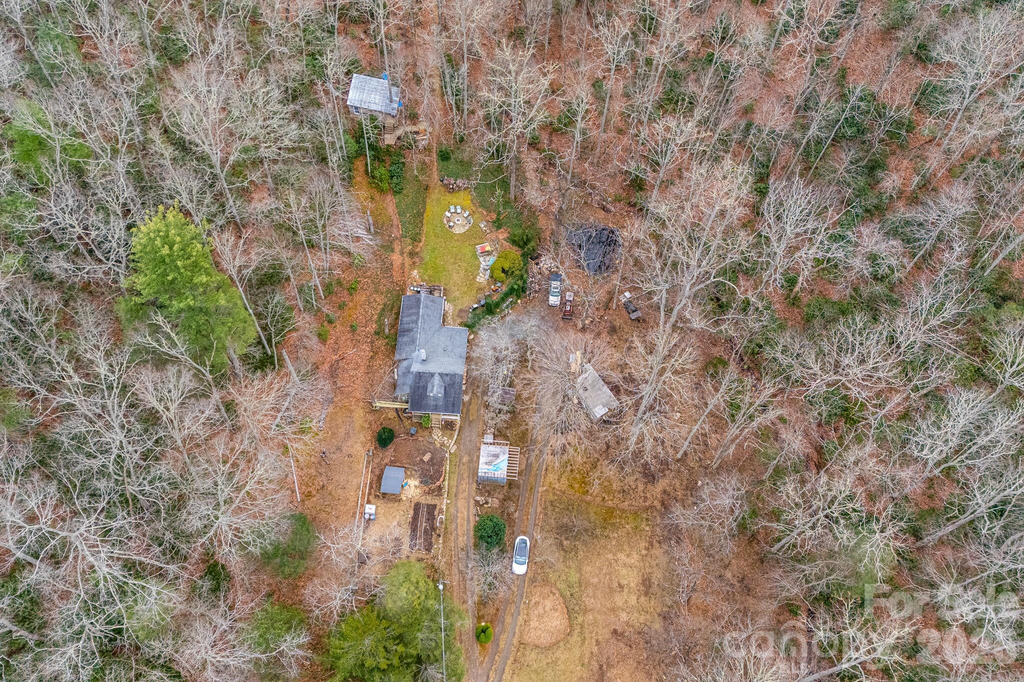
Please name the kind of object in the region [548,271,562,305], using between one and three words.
vehicle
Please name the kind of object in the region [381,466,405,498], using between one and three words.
shed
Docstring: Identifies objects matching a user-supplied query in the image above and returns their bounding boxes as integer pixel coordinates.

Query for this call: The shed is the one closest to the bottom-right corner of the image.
[576,368,619,424]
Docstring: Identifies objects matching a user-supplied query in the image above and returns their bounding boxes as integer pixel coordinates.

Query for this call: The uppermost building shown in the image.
[347,73,400,124]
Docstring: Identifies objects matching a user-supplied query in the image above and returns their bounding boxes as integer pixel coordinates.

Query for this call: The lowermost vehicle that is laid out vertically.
[512,535,530,574]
